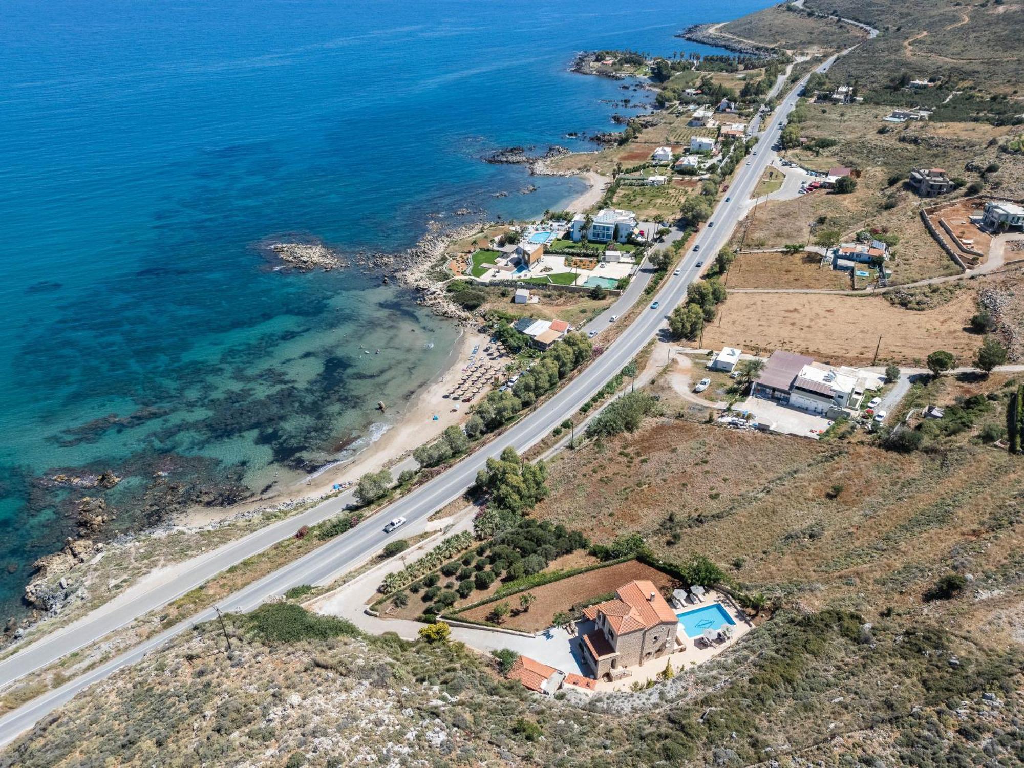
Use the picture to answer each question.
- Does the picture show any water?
Yes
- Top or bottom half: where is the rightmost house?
top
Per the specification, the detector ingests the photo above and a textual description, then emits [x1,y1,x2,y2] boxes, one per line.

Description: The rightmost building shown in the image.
[962,205,1024,238]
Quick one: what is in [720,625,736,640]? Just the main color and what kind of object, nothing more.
white umbrella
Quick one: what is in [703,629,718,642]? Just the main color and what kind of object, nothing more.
white umbrella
